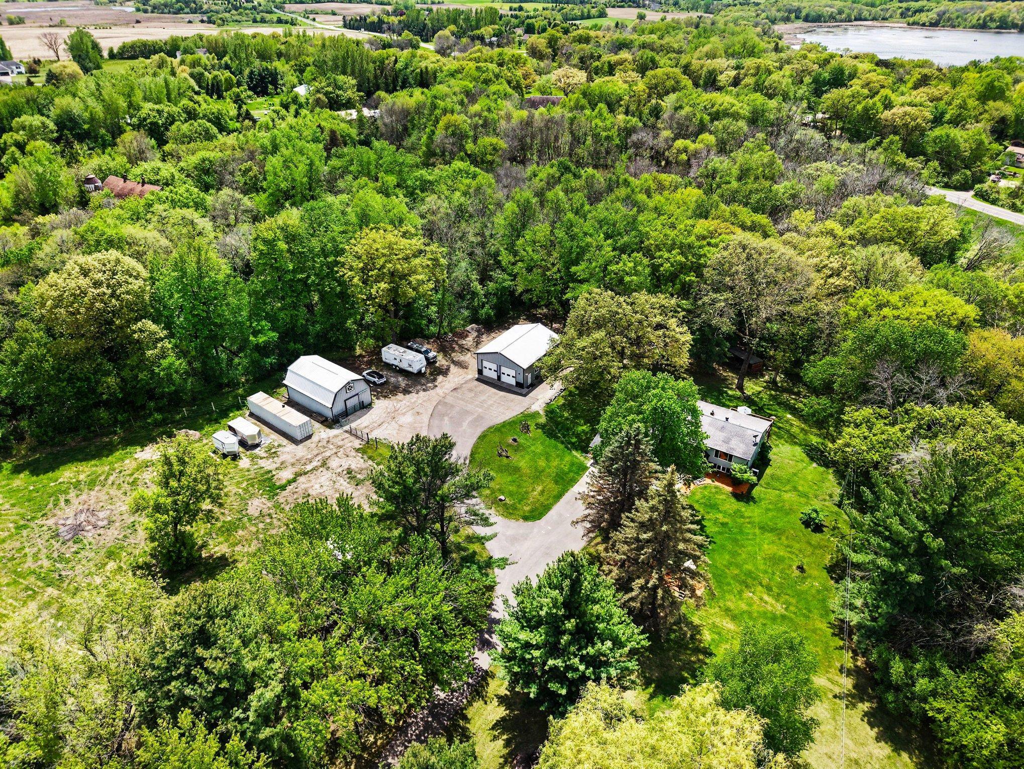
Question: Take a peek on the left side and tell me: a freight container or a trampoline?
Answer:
freight container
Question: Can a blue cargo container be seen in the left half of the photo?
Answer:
No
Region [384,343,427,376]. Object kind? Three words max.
trailer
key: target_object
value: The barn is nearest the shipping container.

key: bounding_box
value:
[287,357,372,421]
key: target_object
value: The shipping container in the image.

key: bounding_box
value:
[247,391,313,440]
